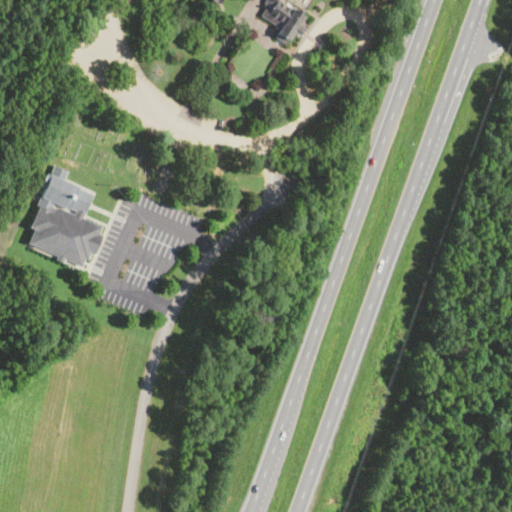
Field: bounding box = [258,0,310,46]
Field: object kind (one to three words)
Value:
house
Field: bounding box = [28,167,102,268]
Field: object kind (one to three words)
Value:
building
